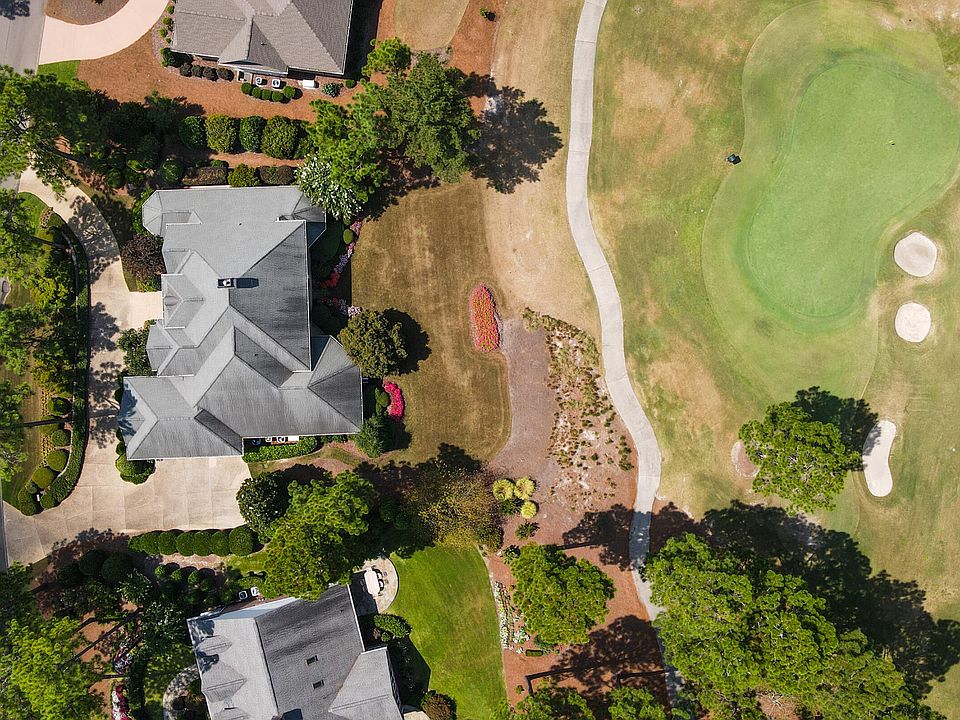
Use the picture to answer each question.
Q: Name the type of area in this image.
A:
golf course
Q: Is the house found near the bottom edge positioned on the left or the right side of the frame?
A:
left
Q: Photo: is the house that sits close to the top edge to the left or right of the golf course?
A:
on the left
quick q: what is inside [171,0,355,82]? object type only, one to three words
house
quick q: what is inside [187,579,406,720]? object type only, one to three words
house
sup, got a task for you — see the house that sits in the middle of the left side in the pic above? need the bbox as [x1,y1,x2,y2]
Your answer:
[117,186,362,461]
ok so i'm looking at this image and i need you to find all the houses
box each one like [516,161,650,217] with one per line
[117,186,362,461]
[187,579,406,720]
[171,0,355,82]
